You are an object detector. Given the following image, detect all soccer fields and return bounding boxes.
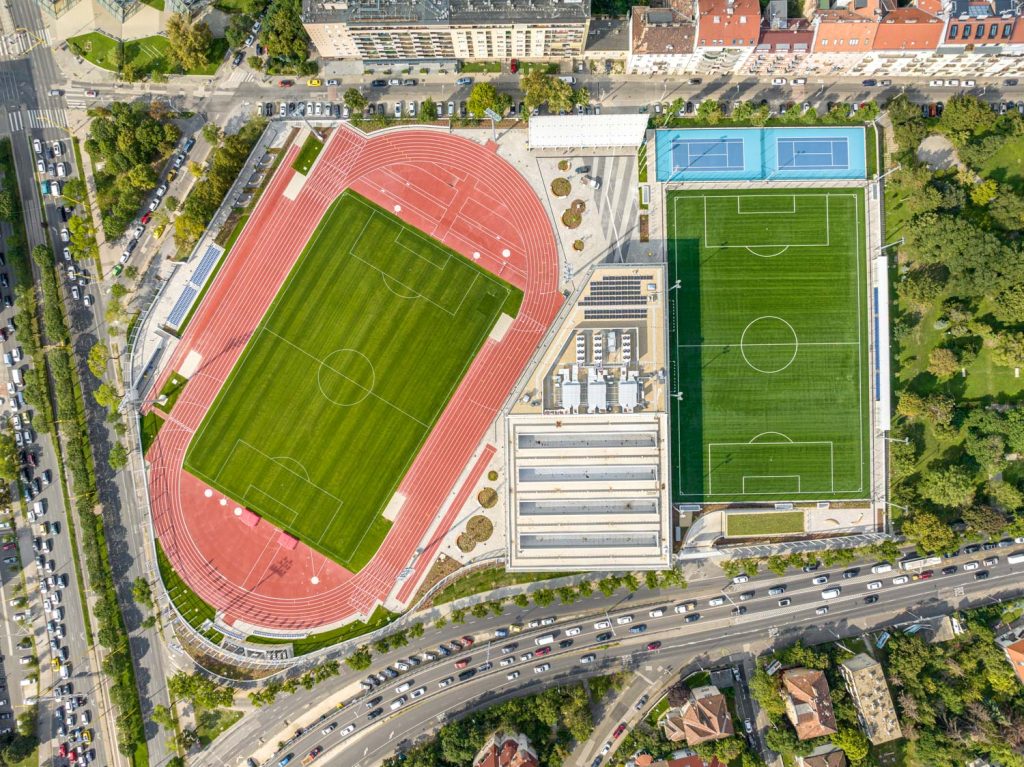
[182,188,525,572]
[667,188,870,503]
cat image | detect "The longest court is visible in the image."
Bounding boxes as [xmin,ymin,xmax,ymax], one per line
[656,126,866,181]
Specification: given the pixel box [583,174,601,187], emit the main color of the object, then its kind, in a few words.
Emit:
white vehicle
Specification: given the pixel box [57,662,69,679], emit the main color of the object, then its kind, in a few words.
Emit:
white vehicle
